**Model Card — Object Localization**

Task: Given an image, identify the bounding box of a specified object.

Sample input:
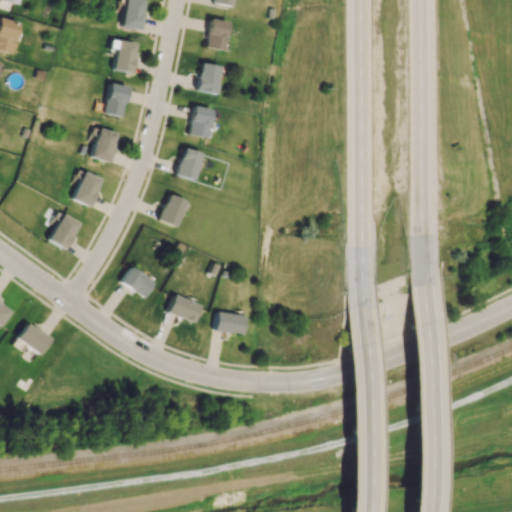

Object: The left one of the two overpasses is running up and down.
[338,246,389,512]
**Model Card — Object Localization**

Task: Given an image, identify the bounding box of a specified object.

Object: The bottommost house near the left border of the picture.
[18,323,52,355]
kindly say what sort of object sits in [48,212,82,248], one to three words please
house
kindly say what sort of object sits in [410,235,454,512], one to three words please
overpass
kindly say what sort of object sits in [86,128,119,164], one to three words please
house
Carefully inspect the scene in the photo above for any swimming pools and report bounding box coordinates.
[2,72,25,90]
